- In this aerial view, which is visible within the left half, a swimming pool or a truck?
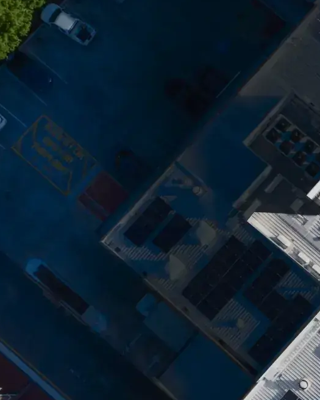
truck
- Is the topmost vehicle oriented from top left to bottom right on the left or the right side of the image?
left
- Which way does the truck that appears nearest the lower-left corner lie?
at an angle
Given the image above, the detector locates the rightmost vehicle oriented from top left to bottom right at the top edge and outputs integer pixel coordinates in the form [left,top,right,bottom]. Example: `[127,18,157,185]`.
[40,2,101,50]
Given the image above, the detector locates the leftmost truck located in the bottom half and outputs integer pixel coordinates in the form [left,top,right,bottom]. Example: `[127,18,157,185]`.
[23,256,113,341]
